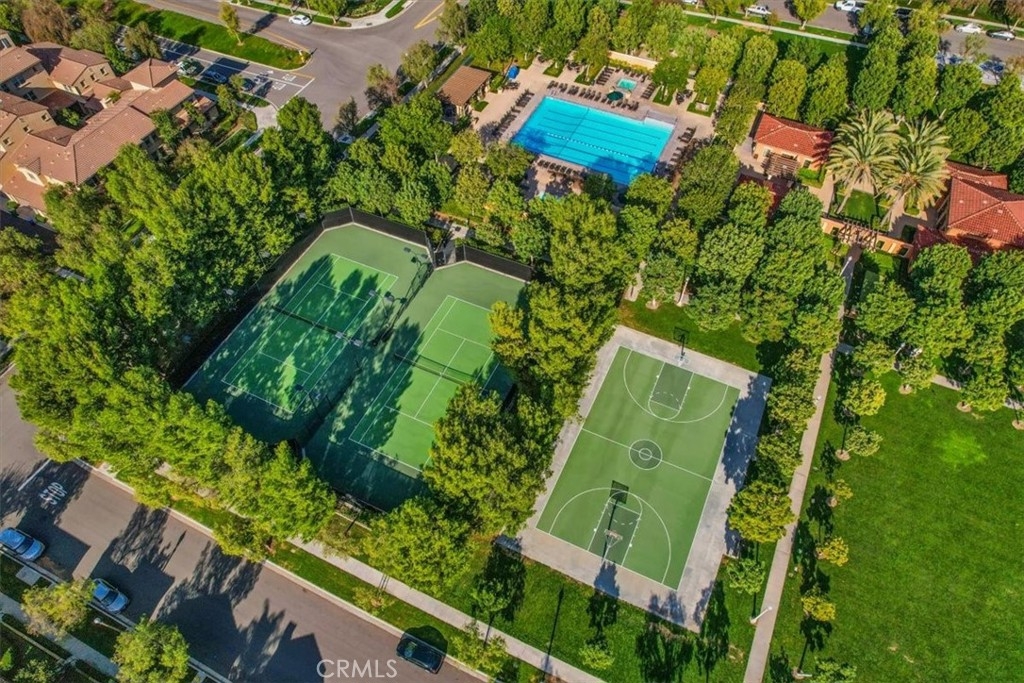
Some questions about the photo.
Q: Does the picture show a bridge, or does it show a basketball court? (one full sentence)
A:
I can see a basketball court in this picture.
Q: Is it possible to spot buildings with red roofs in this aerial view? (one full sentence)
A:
Yes, this view includes a building with a red roof.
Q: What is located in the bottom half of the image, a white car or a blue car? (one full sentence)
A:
You can see a blue car in the bottom half of the image.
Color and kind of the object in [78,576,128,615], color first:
blue car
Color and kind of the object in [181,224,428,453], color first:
green tennis court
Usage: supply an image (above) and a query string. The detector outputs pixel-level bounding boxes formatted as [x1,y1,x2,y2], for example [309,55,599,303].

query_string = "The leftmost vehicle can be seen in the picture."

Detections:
[0,525,38,560]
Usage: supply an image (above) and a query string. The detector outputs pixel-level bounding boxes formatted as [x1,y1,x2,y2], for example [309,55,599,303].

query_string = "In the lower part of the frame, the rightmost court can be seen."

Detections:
[510,325,772,639]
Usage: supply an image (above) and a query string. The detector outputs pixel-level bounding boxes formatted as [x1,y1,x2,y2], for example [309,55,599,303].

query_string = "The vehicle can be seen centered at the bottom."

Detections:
[390,635,443,678]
